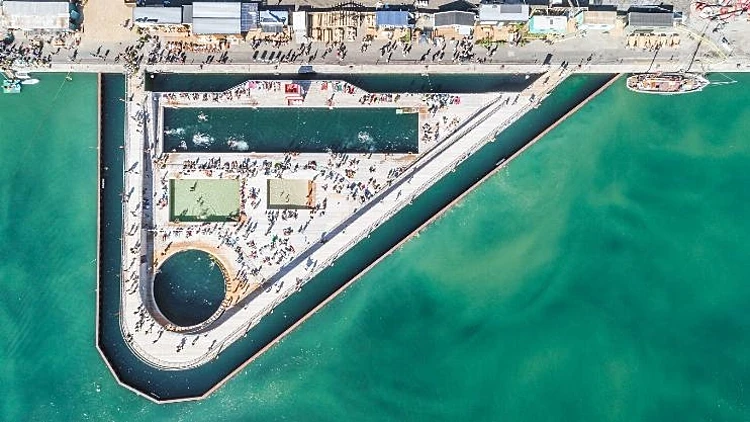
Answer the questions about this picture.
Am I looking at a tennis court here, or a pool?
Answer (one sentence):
I can see a pool in this picture.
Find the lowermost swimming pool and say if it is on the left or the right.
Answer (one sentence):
The lowermost swimming pool appears in the left half of the scene.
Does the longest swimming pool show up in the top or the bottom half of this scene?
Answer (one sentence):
It is in the top half that the longest swimming pool appears.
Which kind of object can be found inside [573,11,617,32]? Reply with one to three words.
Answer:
building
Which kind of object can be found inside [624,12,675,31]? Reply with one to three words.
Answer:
building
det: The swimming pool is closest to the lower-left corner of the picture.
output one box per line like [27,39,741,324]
[152,250,230,328]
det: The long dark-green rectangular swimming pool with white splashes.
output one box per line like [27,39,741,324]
[161,105,420,155]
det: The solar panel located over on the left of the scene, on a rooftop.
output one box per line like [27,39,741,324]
[242,3,256,31]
